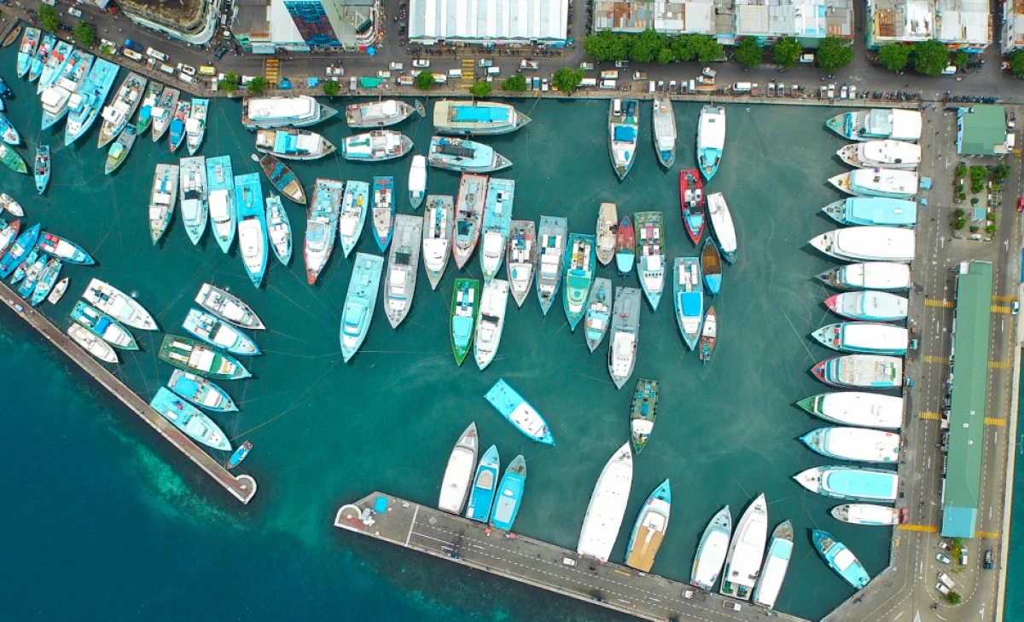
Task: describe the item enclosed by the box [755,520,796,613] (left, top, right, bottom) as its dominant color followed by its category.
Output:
white ship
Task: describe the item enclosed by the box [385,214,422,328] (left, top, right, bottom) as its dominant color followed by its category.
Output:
white vessel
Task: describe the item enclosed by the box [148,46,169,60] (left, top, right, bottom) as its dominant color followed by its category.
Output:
white vehicle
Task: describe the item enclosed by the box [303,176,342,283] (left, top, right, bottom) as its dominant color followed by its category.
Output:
white boat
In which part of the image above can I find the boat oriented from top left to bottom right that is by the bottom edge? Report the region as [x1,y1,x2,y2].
[814,531,871,592]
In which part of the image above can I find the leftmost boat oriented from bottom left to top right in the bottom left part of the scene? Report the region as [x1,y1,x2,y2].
[226,440,254,470]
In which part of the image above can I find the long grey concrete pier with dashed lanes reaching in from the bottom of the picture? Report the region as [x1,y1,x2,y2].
[332,491,809,622]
